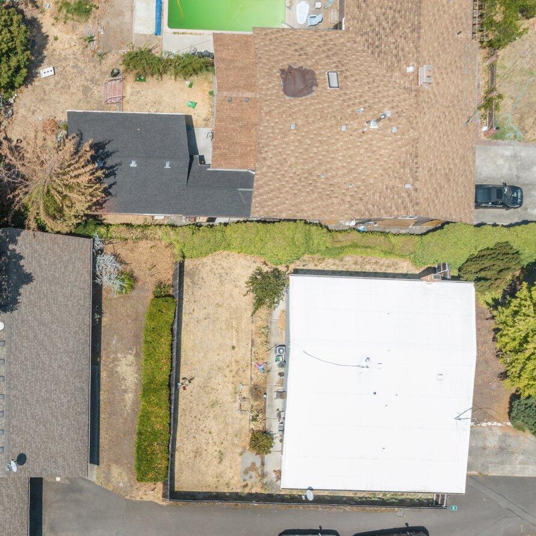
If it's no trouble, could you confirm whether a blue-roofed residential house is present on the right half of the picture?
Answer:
No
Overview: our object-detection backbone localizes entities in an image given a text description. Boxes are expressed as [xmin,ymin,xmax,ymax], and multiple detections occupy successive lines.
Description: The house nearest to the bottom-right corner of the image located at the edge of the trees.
[270,260,476,505]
